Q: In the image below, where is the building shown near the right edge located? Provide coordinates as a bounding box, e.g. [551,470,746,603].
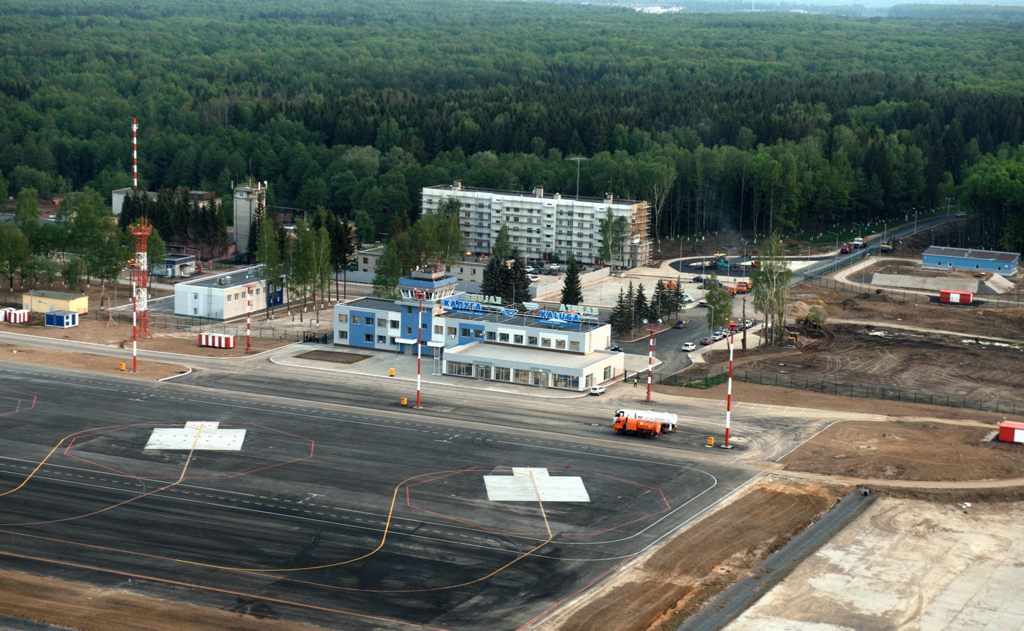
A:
[920,245,1024,275]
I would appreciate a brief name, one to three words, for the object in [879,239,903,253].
work vehicle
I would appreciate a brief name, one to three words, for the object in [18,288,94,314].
building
